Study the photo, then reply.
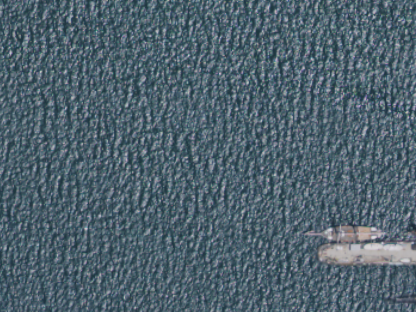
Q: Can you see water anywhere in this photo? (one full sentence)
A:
Yes, water can be seen from above here.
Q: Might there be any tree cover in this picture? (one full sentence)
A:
No, the picture contains no tree cover.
